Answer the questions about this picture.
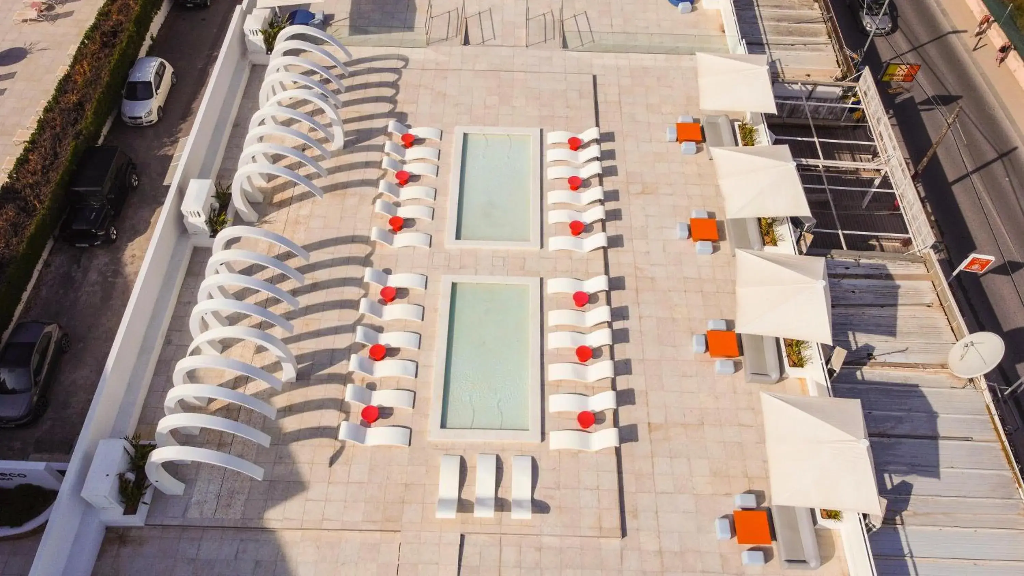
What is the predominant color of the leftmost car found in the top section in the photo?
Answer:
black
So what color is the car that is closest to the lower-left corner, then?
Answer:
black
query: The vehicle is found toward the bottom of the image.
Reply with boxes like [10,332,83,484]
[0,318,72,433]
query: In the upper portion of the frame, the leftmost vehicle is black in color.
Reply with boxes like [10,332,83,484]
[58,151,138,253]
